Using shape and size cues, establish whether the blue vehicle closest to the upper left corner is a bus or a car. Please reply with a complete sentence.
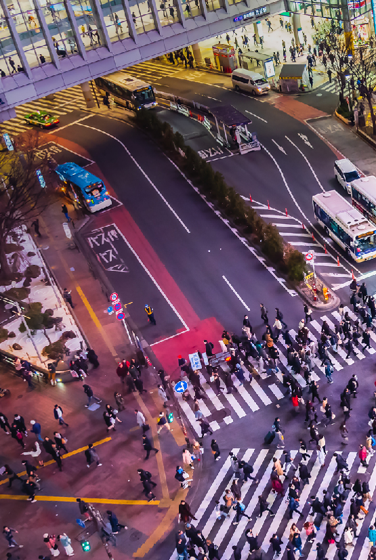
Looking closely, the blue vehicle closest to the upper left corner is a bus.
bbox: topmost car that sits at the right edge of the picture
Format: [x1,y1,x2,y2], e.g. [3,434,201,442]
[328,152,361,187]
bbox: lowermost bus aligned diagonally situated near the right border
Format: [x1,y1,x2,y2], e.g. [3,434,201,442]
[315,191,376,263]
